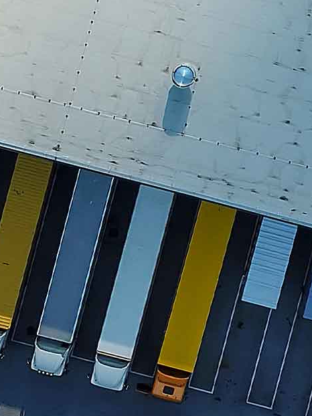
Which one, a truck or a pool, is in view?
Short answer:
truck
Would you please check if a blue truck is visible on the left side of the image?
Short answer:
Yes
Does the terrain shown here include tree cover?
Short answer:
No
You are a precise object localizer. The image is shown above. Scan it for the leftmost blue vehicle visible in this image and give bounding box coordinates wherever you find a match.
[28,169,117,374]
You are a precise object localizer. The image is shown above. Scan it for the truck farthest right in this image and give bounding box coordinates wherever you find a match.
[139,201,235,401]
